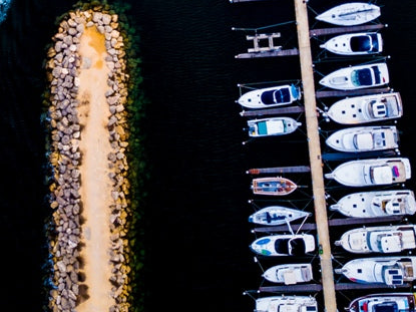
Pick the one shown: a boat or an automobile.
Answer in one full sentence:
Of the two, only a boat appears.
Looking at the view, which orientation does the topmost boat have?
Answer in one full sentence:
The topmost boat is oriented from left to right.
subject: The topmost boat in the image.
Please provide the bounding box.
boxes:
[316,4,381,26]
